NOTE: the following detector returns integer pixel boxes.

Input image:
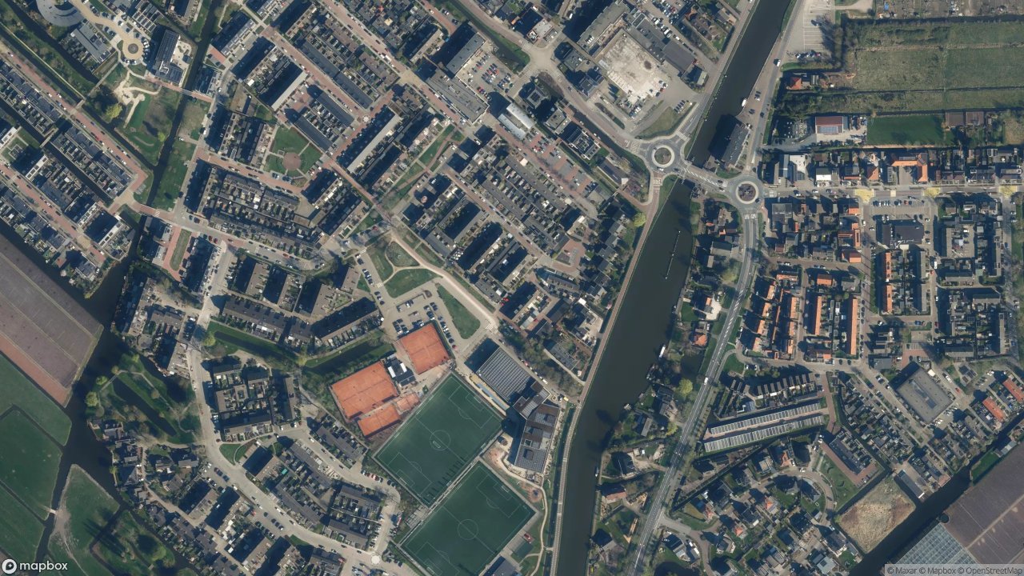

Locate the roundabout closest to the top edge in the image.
[645,138,681,174]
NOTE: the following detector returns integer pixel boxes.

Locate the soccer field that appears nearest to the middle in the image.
[373,369,507,508]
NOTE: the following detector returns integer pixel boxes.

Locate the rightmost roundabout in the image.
[729,174,765,210]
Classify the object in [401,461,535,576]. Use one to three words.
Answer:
soccer field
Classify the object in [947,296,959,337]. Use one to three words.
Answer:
building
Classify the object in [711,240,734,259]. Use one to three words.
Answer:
house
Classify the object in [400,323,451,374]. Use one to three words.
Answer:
tennis court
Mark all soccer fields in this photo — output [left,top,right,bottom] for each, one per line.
[373,369,507,508]
[401,461,535,576]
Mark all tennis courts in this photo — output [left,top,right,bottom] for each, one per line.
[359,405,401,436]
[331,361,400,418]
[400,323,451,374]
[395,391,420,411]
